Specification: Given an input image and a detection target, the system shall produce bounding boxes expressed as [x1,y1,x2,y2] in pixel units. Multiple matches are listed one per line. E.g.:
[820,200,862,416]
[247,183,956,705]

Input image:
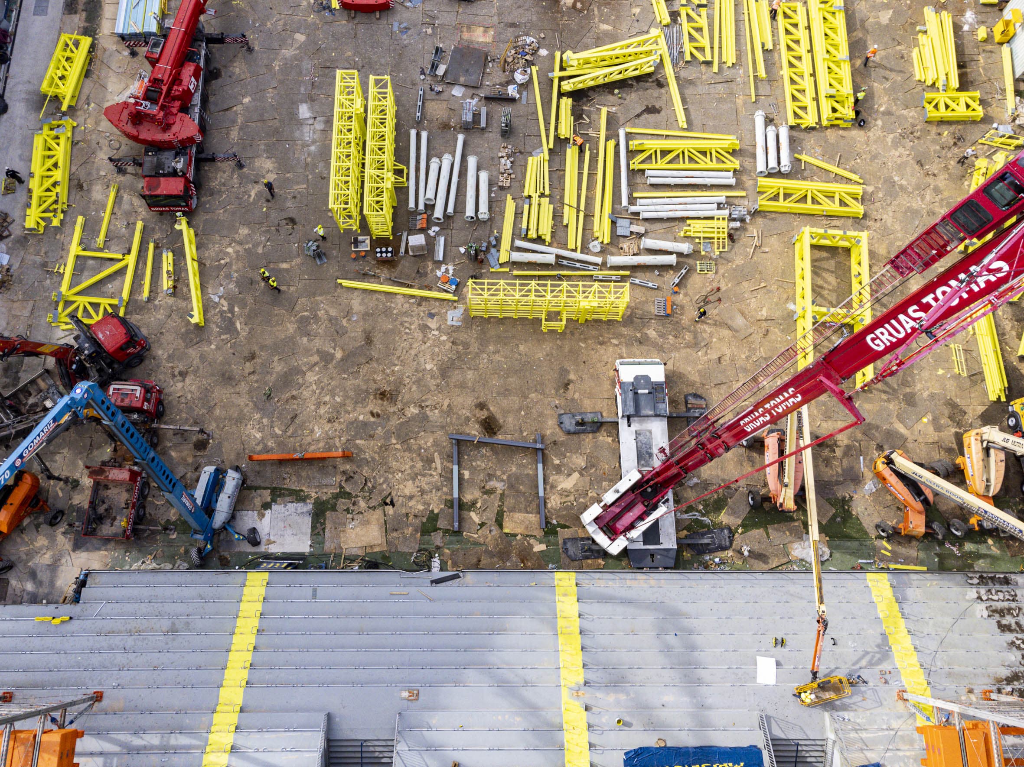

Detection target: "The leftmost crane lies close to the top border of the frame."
[102,0,254,212]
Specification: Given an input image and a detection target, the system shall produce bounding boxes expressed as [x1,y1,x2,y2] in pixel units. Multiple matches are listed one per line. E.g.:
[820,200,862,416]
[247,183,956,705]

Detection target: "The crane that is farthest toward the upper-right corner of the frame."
[573,147,1024,570]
